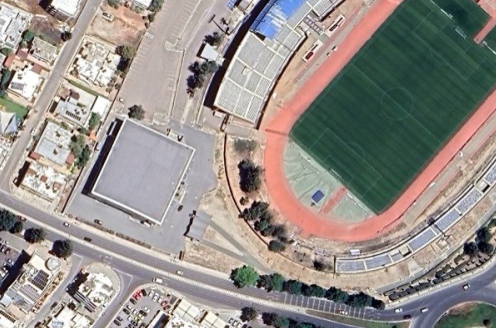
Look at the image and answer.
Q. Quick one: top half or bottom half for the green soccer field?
top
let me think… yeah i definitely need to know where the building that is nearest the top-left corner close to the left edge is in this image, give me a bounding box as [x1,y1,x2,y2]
[0,3,37,58]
